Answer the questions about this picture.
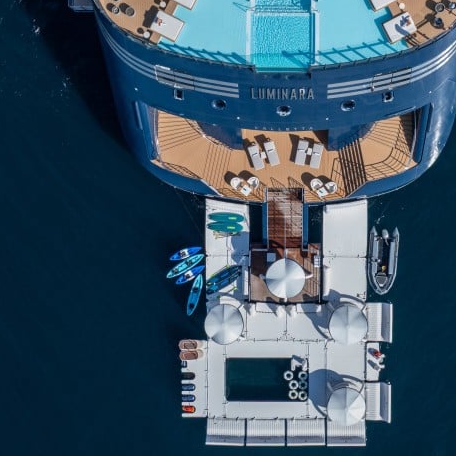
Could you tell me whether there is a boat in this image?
Yes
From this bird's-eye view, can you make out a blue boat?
Yes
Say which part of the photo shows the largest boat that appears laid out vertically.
right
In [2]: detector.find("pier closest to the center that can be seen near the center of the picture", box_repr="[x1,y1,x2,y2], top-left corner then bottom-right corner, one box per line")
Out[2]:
[206,200,250,256]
